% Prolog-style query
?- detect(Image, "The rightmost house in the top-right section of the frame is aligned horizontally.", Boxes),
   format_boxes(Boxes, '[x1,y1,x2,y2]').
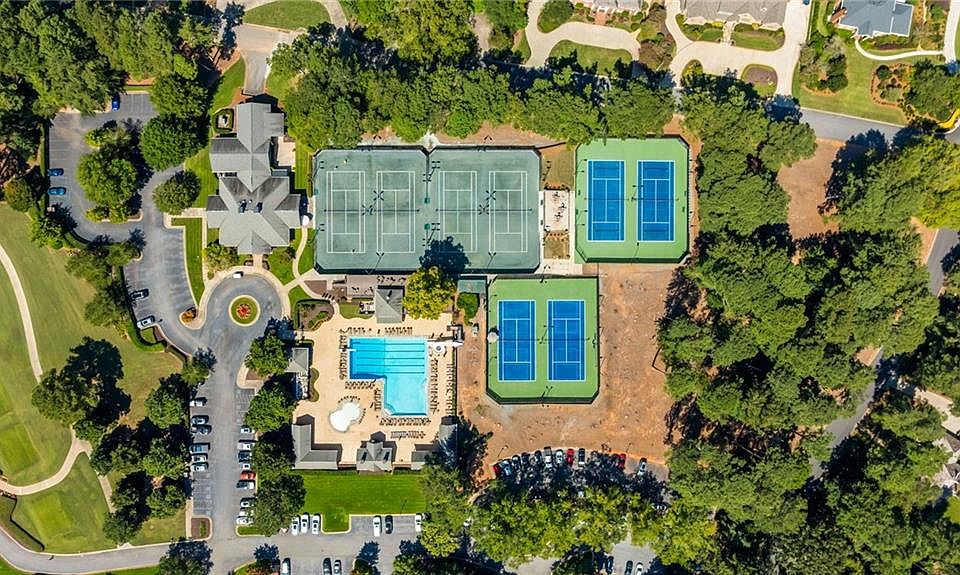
[826,0,914,40]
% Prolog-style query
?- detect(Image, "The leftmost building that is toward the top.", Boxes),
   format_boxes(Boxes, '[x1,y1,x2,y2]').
[202,100,304,254]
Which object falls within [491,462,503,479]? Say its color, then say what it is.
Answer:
red vehicle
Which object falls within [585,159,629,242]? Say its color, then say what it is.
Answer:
blue tennis court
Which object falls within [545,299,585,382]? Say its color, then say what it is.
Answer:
blue tennis court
